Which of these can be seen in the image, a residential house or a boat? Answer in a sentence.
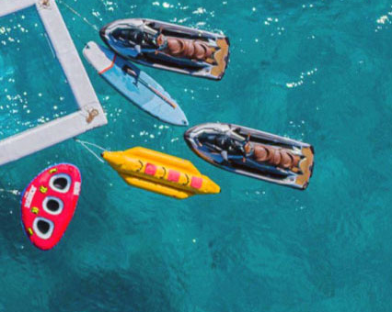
This aerial view contains a boat.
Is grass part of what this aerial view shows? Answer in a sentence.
No, grass can't be seen anywhere here.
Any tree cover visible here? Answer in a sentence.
No, there's no tree cover in this view.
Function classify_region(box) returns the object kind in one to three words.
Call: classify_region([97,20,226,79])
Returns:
boat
